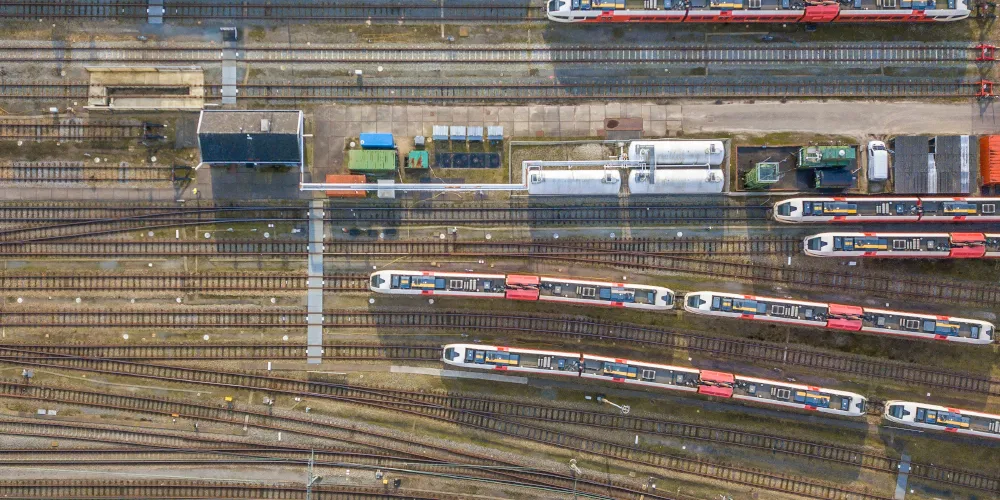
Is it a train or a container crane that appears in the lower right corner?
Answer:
train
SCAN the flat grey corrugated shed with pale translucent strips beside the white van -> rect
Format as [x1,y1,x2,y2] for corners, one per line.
[883,136,978,195]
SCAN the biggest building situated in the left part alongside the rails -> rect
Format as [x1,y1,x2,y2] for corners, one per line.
[195,108,309,170]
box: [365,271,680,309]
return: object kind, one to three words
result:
train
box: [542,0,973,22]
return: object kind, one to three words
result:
train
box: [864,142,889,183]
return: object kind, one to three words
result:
vehicle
